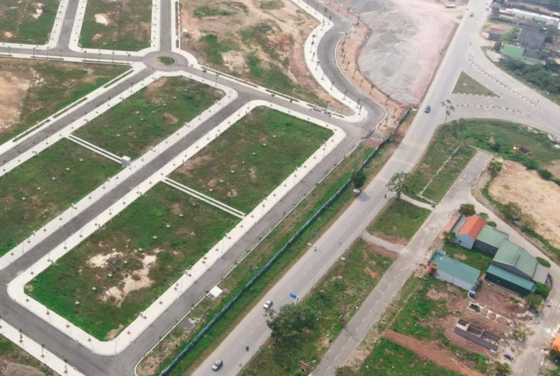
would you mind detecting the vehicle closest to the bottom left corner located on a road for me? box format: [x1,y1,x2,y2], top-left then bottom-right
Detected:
[210,354,225,372]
